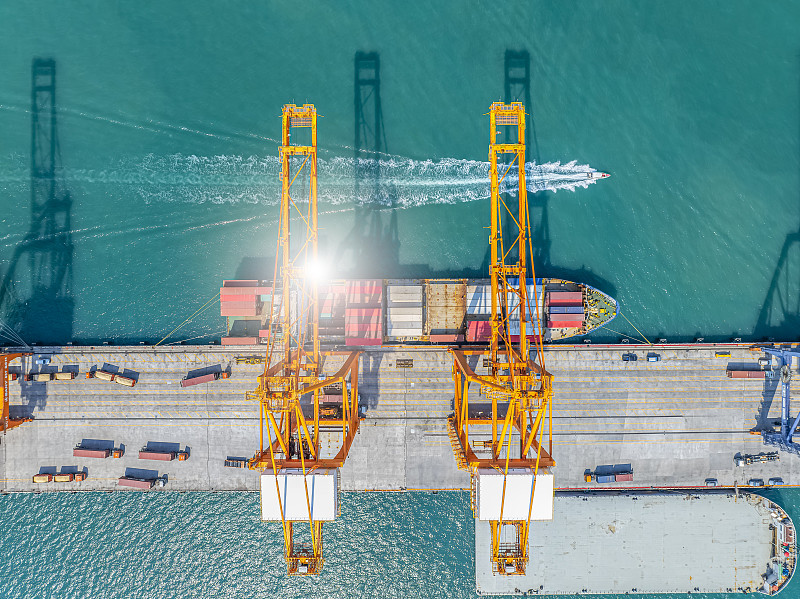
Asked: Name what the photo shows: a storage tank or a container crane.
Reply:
container crane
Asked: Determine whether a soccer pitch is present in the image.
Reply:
No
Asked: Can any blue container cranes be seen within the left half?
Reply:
No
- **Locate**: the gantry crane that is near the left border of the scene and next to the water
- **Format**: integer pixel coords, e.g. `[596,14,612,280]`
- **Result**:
[0,351,38,433]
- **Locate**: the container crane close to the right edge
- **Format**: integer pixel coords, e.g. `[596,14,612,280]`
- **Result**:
[749,347,800,456]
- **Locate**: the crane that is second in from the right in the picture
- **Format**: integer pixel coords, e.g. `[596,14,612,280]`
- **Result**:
[438,94,558,572]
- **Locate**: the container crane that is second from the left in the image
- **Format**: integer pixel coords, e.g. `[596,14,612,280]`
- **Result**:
[247,95,370,574]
